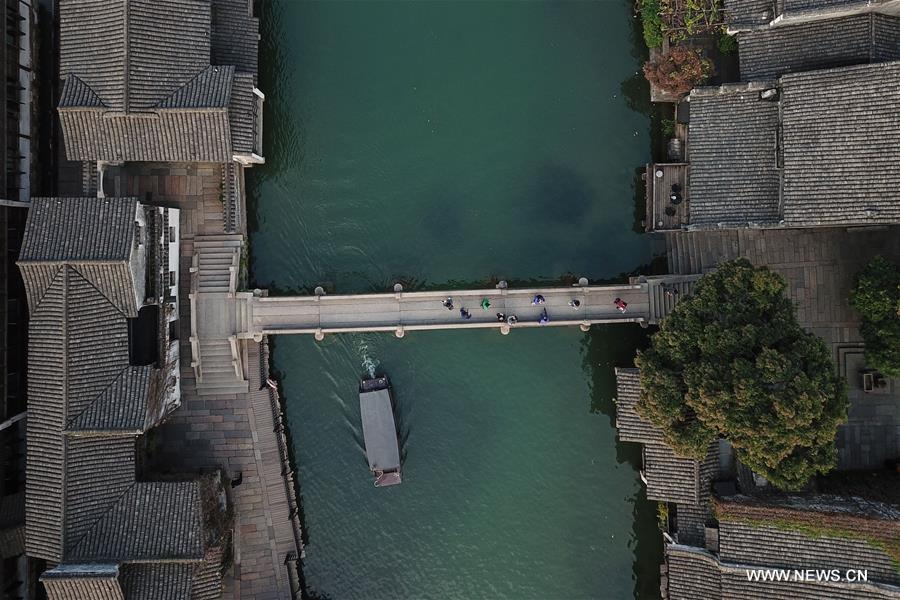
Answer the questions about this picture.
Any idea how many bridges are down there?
1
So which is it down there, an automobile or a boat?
boat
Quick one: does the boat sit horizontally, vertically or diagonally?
vertically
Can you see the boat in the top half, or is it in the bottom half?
bottom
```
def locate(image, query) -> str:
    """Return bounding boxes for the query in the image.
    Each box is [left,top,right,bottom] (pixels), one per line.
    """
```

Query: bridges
[250,276,649,343]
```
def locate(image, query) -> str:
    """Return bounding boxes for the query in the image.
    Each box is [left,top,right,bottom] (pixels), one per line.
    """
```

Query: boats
[359,373,401,490]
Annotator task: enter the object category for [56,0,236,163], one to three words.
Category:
house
